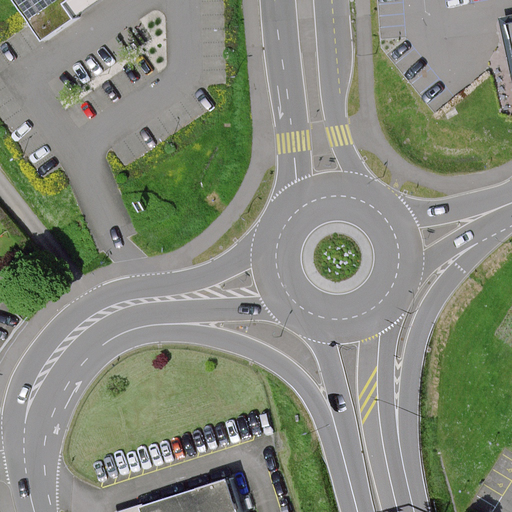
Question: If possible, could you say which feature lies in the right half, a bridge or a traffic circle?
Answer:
traffic circle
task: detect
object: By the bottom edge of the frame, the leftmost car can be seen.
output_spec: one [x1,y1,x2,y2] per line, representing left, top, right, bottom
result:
[18,478,30,499]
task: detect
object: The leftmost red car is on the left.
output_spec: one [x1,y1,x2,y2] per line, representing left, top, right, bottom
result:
[81,101,98,119]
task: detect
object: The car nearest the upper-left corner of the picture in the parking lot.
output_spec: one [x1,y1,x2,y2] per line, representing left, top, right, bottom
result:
[1,41,18,62]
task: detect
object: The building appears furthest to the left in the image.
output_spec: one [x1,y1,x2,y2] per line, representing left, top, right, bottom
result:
[12,0,77,42]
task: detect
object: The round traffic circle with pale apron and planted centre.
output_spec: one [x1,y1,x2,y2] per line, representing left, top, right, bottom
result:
[254,173,422,342]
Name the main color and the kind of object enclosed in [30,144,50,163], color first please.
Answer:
white car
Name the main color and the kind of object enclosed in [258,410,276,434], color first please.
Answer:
white vehicle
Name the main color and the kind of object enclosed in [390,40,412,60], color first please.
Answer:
gray car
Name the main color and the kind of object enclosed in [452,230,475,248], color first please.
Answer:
white car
